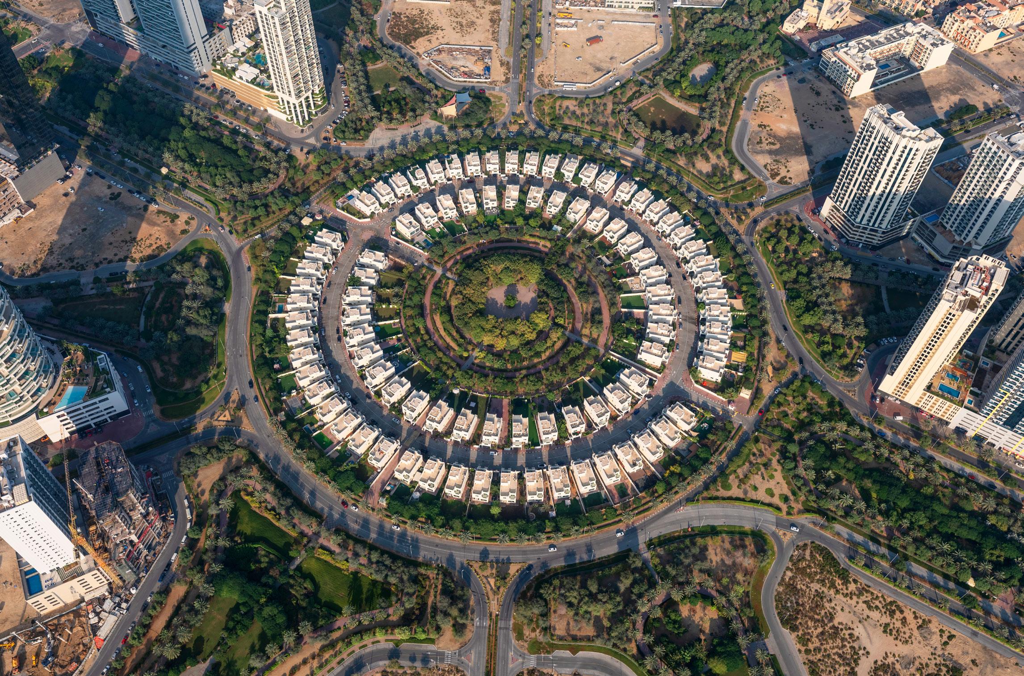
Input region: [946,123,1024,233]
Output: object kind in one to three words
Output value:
building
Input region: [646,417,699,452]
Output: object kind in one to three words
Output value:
house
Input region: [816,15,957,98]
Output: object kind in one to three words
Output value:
building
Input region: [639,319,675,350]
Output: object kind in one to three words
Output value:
house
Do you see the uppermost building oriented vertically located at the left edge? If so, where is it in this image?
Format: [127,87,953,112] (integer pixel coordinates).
[0,36,61,166]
